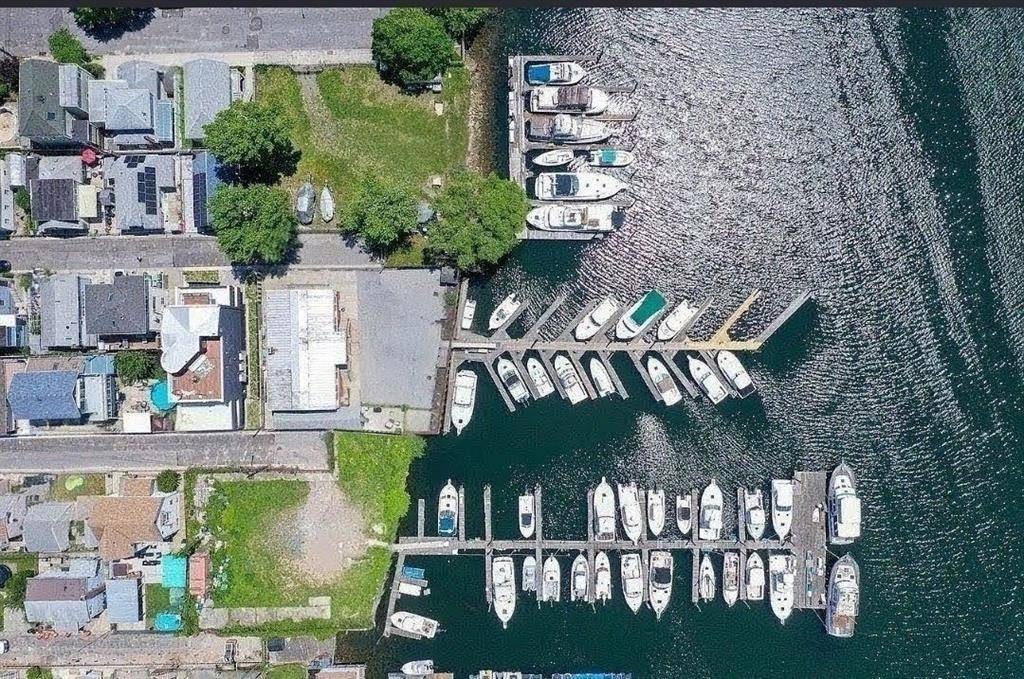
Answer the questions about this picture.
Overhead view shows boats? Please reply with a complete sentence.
Yes, there's a boat down there.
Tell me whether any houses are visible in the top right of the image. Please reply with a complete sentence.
No, there's no house to be seen in the top right of the image.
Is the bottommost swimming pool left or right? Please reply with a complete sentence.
The bottommost swimming pool sits on the left side.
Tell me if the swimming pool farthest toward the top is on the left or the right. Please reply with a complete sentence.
You can find the swimming pool farthest toward the top on the left side of the picture.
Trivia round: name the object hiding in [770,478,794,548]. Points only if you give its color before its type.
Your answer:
white boat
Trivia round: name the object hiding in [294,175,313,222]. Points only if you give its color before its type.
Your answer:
gray boat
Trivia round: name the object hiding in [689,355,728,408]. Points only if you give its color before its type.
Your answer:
white boat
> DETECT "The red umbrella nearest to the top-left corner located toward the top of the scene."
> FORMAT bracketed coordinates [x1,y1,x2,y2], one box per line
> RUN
[84,149,99,163]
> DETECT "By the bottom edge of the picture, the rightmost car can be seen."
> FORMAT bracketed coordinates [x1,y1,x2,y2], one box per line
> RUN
[268,638,287,650]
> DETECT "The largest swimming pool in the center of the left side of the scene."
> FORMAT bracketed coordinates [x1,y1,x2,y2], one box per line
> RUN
[148,382,175,410]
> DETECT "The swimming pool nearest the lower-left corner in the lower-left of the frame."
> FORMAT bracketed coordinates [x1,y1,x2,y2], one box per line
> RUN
[155,611,183,631]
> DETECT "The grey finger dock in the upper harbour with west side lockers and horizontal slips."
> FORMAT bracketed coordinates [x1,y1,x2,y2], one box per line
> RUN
[509,51,641,239]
